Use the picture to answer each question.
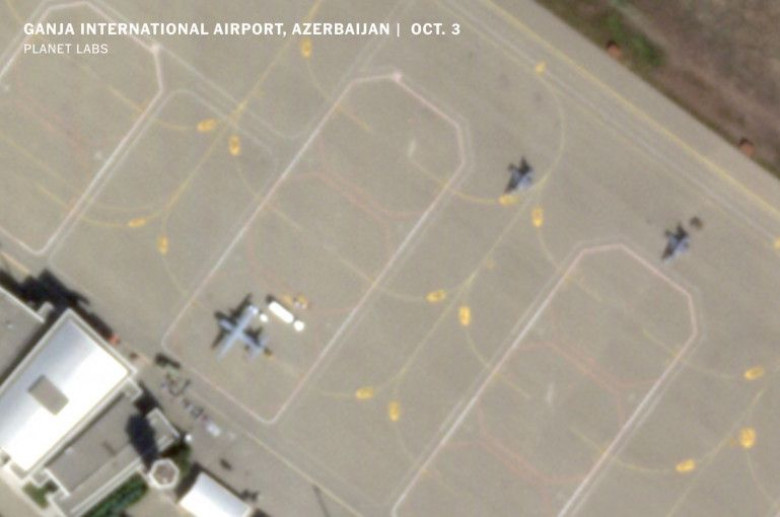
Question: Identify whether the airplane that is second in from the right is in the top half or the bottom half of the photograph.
top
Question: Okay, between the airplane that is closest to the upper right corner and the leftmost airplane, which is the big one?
the leftmost airplane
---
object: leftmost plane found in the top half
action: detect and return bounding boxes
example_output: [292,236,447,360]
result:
[511,164,538,193]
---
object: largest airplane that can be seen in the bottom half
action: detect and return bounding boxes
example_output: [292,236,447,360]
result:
[218,306,269,360]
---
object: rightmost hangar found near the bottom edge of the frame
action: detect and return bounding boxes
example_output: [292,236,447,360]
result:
[177,472,250,517]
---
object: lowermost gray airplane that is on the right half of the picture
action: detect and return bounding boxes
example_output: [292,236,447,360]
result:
[667,229,693,257]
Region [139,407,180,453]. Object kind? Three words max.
building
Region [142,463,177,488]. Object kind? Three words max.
building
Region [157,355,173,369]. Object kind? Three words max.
vehicle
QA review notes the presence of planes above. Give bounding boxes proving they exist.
[667,229,693,257]
[218,306,269,360]
[511,164,538,193]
